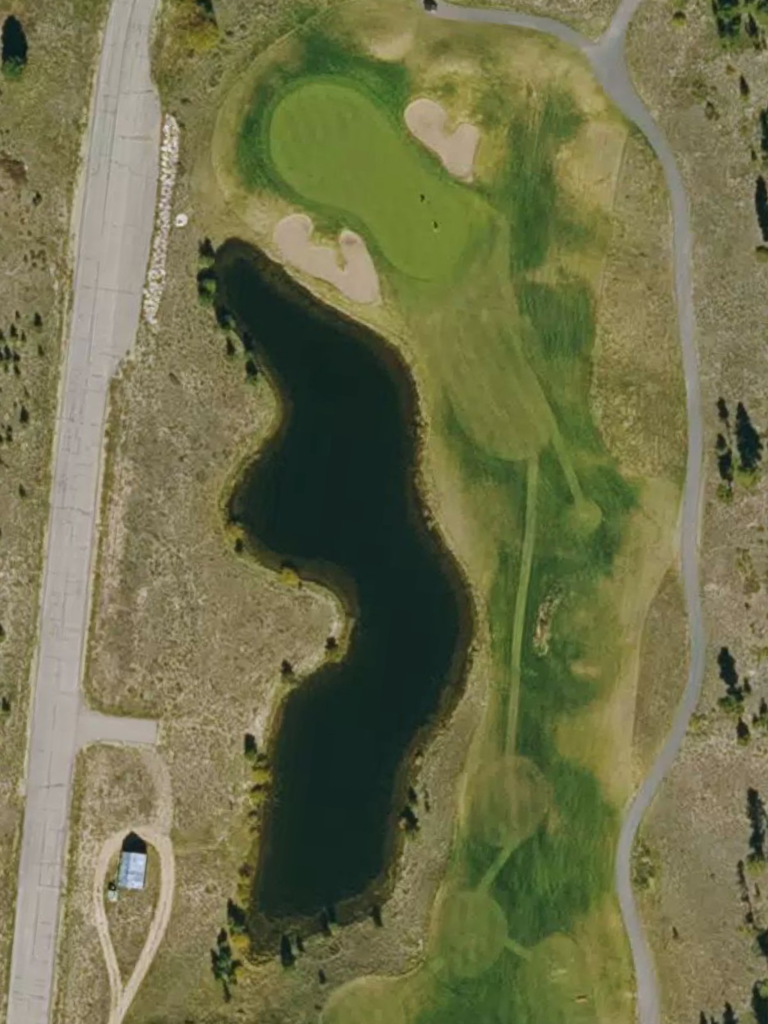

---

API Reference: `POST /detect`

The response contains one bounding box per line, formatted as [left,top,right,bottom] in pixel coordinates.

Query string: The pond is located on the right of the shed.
[214,238,474,957]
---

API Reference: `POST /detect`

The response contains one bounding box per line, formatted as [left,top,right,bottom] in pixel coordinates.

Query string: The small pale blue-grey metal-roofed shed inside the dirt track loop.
[117,854,145,892]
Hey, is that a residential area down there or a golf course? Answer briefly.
golf course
